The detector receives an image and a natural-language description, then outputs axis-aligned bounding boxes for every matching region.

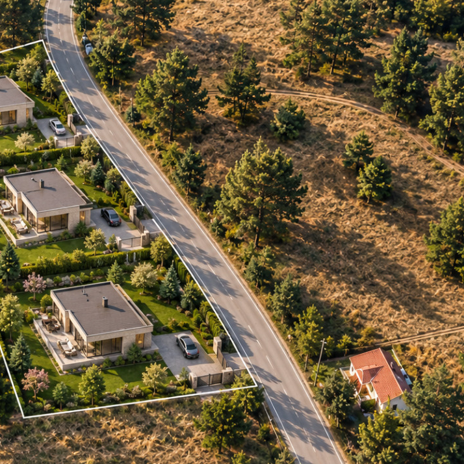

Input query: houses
[310,346,416,419]
[0,77,38,137]
[0,169,96,251]
[27,281,163,379]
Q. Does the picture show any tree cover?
Yes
